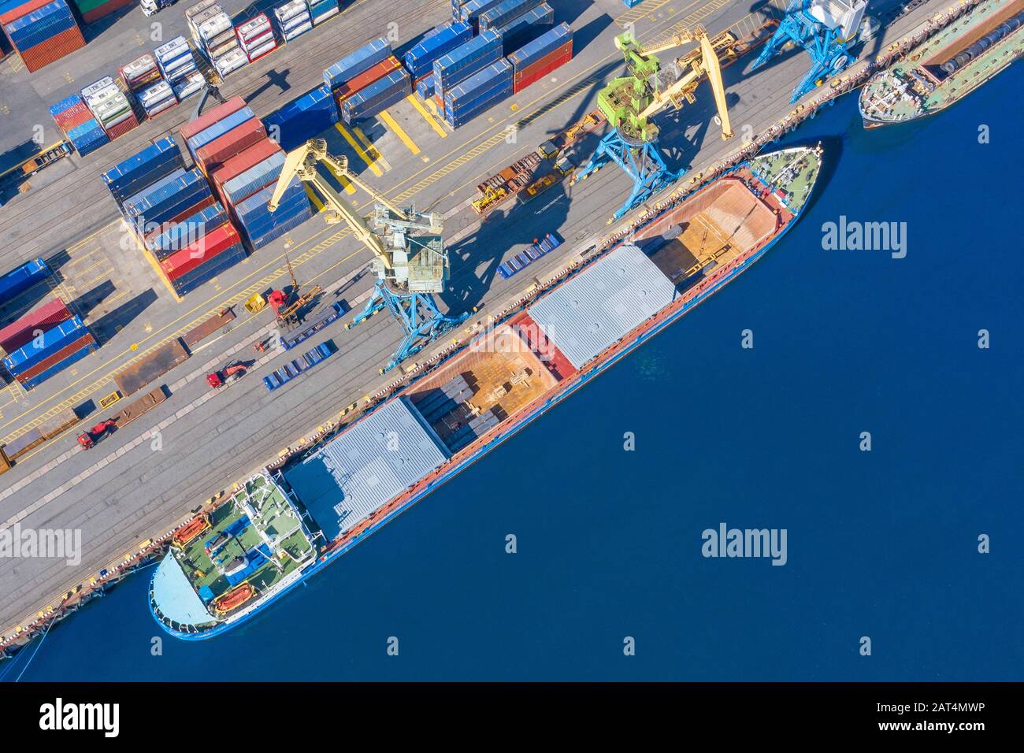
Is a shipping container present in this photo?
Yes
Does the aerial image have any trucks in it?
Yes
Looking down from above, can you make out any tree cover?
No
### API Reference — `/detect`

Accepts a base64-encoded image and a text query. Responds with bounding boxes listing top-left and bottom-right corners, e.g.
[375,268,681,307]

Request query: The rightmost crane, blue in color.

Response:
[746,0,868,106]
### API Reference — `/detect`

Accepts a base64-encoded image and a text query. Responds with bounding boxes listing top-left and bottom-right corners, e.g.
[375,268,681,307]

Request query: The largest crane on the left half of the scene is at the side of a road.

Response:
[271,131,479,376]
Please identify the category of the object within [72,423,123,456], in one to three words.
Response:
truck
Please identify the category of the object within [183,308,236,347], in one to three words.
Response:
trailer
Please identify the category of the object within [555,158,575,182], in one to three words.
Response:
vehicle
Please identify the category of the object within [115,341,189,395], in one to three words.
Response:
trailer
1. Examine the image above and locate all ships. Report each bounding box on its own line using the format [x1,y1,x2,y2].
[148,144,823,642]
[859,0,1024,131]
